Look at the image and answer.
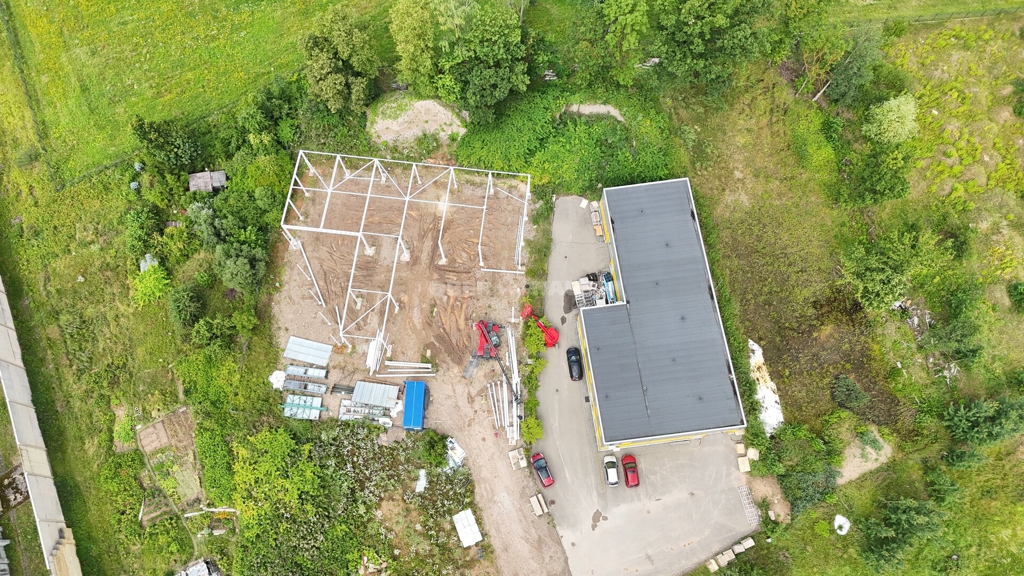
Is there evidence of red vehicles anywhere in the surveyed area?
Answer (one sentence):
Yes, the image includes a red vehicle.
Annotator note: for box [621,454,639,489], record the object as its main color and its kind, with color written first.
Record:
red car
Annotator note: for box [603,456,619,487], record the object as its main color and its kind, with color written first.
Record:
white car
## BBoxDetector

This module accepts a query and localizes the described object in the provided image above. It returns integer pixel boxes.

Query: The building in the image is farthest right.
[579,179,745,454]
